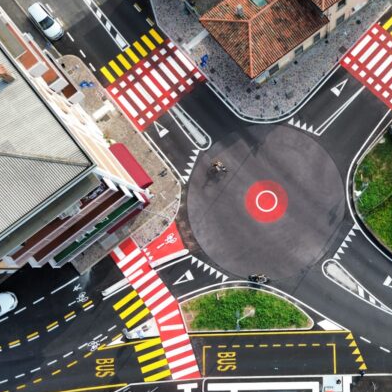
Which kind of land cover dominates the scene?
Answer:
paved ground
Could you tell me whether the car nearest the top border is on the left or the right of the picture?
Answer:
left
